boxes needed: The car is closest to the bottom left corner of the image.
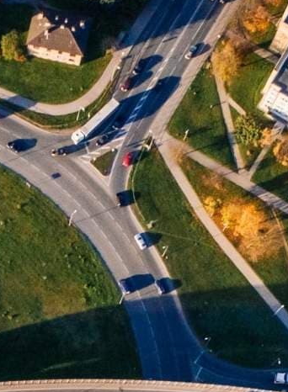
[119,277,132,294]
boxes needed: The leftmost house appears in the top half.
[26,11,94,64]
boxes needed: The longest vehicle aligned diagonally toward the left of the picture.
[69,95,125,146]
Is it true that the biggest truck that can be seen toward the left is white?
Yes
